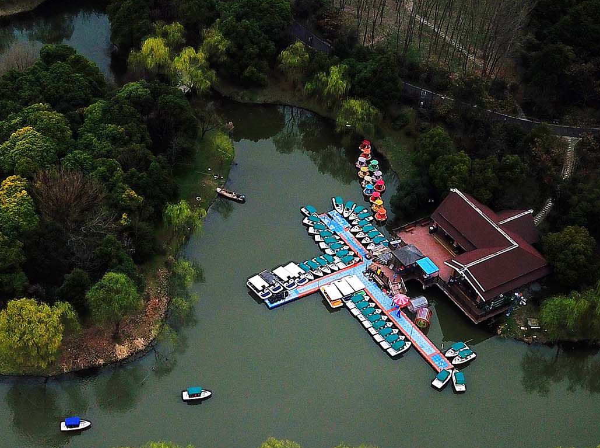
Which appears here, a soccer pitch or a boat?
boat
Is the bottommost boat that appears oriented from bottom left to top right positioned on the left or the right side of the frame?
right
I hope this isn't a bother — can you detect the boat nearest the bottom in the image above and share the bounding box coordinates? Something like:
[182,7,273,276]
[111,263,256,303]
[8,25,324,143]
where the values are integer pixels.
[61,418,92,432]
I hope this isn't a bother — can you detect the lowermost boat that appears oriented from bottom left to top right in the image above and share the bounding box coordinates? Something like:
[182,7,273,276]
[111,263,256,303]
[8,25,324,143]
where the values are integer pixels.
[430,368,452,390]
